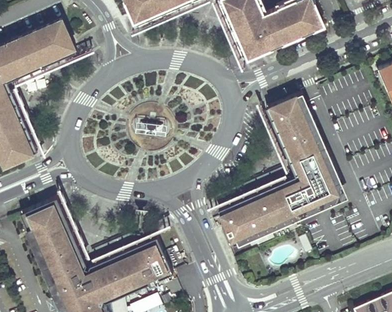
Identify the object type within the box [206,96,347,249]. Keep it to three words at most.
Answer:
building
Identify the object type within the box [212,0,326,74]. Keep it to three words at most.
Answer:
building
